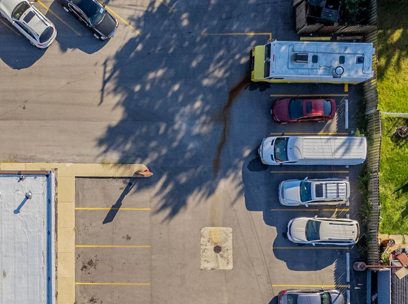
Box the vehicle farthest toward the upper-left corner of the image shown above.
[0,0,56,49]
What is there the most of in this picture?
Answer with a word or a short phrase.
paved ground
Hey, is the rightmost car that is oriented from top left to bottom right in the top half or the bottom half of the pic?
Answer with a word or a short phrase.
top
